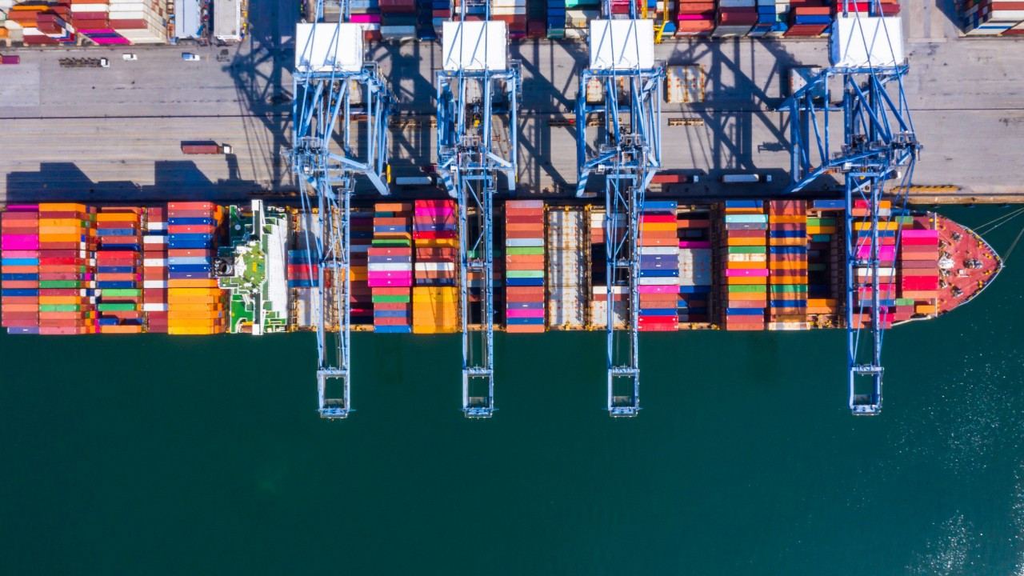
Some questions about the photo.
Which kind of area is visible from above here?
port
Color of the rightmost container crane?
blue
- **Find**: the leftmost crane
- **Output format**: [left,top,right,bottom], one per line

[286,0,410,422]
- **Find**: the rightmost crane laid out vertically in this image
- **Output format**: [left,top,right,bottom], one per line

[759,0,921,419]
